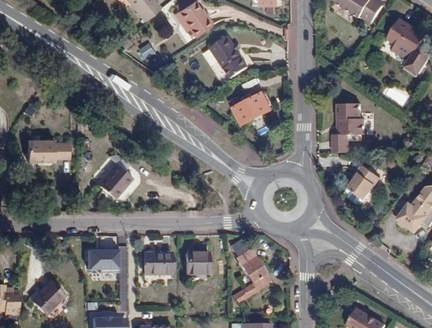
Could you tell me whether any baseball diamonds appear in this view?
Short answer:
No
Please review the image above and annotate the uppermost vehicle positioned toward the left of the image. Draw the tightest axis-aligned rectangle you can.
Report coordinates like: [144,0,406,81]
[109,74,131,90]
